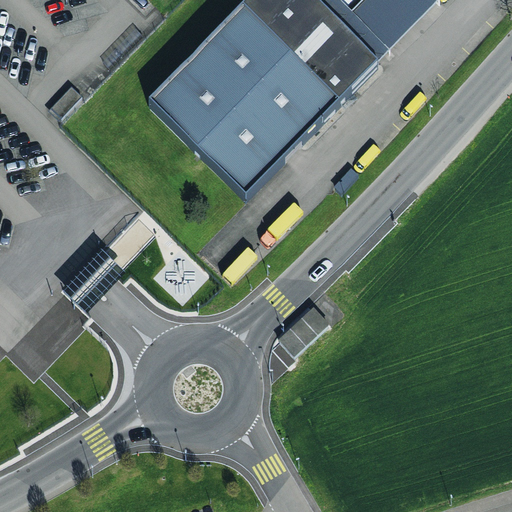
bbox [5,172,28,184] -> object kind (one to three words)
vehicle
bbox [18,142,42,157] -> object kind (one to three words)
car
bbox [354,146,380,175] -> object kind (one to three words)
vehicle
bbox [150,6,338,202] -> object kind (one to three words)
building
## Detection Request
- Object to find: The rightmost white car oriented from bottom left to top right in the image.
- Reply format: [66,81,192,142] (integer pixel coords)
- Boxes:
[310,262,332,282]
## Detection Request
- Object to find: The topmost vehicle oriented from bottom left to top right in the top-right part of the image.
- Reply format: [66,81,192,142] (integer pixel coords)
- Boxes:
[400,94,426,122]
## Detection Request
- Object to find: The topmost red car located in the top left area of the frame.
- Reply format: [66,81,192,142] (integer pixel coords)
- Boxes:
[44,0,65,14]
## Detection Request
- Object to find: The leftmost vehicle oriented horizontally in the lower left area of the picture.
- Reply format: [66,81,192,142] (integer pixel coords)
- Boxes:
[128,429,152,442]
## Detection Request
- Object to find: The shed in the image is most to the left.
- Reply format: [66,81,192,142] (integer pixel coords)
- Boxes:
[50,87,82,122]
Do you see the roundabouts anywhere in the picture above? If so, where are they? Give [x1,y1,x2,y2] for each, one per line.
[132,324,262,453]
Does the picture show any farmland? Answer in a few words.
Yes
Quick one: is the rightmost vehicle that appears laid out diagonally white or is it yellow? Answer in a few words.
yellow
